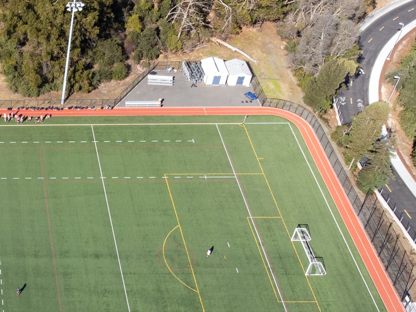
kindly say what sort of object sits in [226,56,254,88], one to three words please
shed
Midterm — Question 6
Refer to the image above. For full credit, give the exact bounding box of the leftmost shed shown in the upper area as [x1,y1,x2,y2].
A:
[197,53,230,86]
